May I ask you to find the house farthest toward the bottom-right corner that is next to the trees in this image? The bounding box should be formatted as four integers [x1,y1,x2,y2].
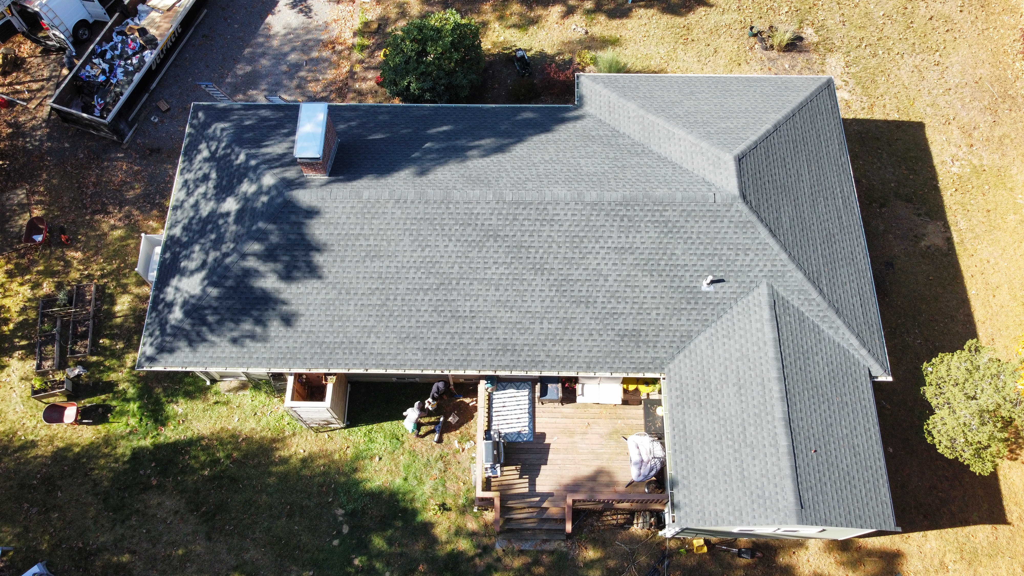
[136,71,905,542]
